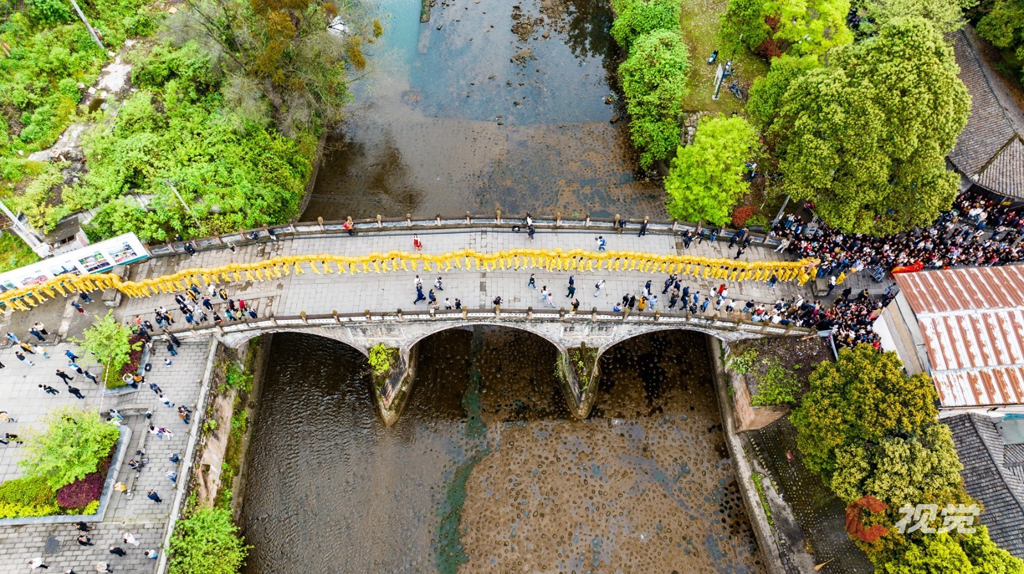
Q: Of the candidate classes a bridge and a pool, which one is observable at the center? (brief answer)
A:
bridge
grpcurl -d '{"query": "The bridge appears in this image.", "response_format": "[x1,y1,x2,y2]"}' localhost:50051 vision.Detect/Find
[113,214,887,425]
